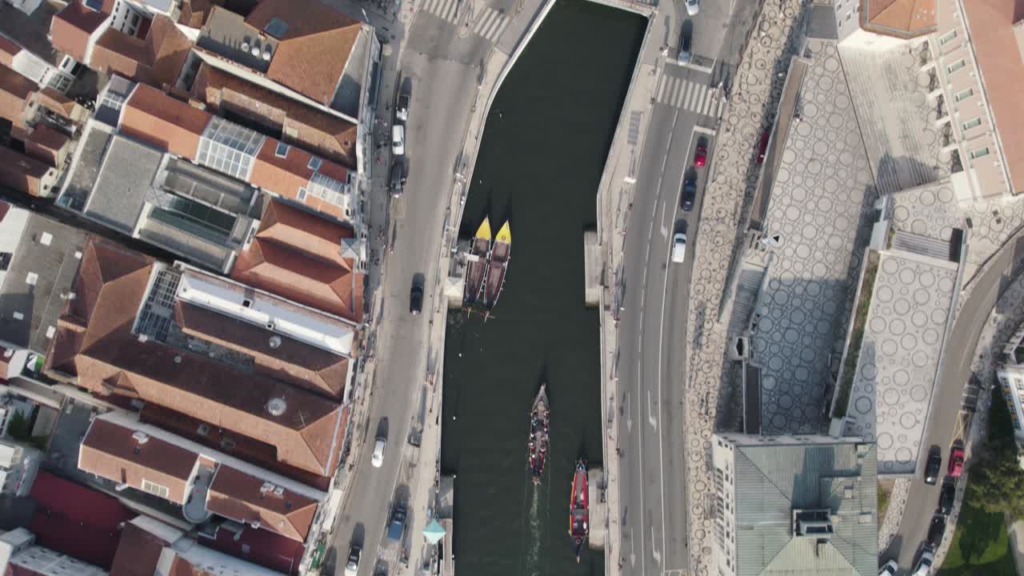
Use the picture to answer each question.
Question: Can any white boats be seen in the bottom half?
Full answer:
No, there's no white boat to be seen in the bottom half.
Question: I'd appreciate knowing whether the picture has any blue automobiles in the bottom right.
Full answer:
No, looking in the bottom right, there is no blue automobile.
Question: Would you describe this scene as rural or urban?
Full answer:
The area shown here is urban.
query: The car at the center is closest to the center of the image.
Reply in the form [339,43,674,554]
[410,287,423,313]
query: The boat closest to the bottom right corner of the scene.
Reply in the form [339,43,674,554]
[569,458,588,565]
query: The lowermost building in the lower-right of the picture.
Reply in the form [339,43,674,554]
[712,431,877,576]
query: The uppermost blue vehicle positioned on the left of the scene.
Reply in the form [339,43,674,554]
[388,509,404,539]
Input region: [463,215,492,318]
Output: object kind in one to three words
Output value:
boat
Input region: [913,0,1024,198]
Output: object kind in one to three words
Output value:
building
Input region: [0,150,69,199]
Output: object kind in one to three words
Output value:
house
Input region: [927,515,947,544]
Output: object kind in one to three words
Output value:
car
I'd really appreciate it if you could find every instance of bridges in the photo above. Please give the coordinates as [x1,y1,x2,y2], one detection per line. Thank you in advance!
[586,0,659,30]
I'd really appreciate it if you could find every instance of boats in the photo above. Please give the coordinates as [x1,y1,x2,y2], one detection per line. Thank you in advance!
[463,215,492,318]
[481,219,512,321]
[569,458,588,565]
[527,384,549,490]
